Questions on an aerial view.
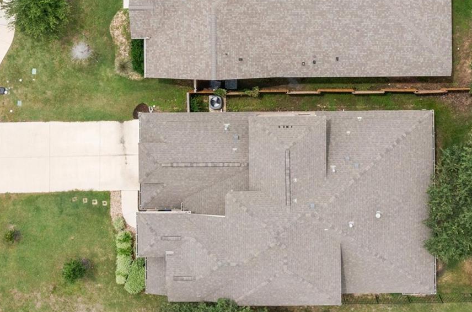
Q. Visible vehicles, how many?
0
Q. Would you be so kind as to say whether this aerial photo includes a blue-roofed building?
No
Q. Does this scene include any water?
No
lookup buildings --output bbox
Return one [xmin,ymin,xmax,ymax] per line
[130,0,452,79]
[135,109,438,306]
